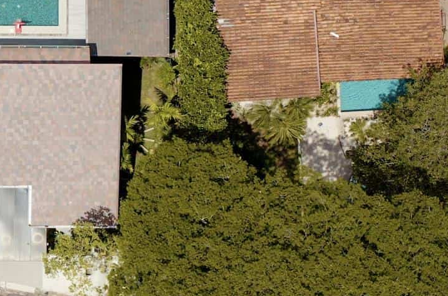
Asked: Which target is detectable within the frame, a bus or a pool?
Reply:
pool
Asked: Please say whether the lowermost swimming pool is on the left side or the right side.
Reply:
right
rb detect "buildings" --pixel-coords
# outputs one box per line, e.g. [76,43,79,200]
[0,45,123,228]
[212,0,445,103]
